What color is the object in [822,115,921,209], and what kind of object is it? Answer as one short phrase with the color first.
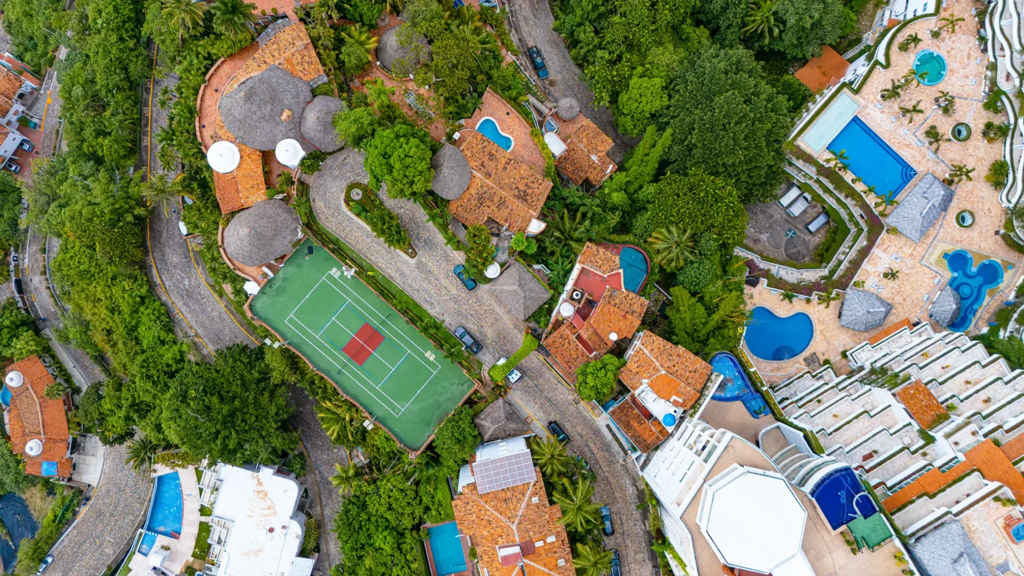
blue swimming pool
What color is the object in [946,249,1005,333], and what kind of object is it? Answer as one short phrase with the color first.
blue swimming pool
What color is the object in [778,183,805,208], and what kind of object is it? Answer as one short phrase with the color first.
white truck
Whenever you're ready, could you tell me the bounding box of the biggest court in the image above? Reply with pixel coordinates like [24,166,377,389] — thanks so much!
[245,236,479,457]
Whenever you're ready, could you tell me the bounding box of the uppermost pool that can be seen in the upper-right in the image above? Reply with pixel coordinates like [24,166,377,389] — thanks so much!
[912,49,949,86]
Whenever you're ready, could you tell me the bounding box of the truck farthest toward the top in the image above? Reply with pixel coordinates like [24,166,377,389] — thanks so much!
[526,43,549,79]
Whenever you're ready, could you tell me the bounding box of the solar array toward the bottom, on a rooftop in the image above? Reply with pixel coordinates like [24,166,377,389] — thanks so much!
[472,449,536,494]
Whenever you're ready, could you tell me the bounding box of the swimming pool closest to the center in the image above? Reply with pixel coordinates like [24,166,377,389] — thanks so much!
[612,244,653,298]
